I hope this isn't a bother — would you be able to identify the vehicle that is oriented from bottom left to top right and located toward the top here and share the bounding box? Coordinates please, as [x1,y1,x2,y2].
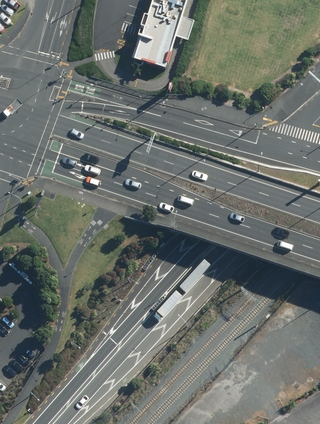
[2,98,21,117]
